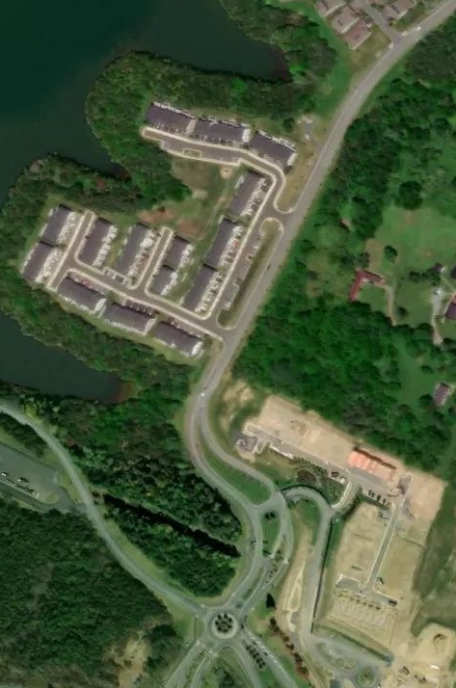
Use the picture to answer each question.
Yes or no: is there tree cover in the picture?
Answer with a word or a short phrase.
Yes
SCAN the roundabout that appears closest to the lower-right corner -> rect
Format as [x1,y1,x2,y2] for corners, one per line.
[350,662,380,688]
